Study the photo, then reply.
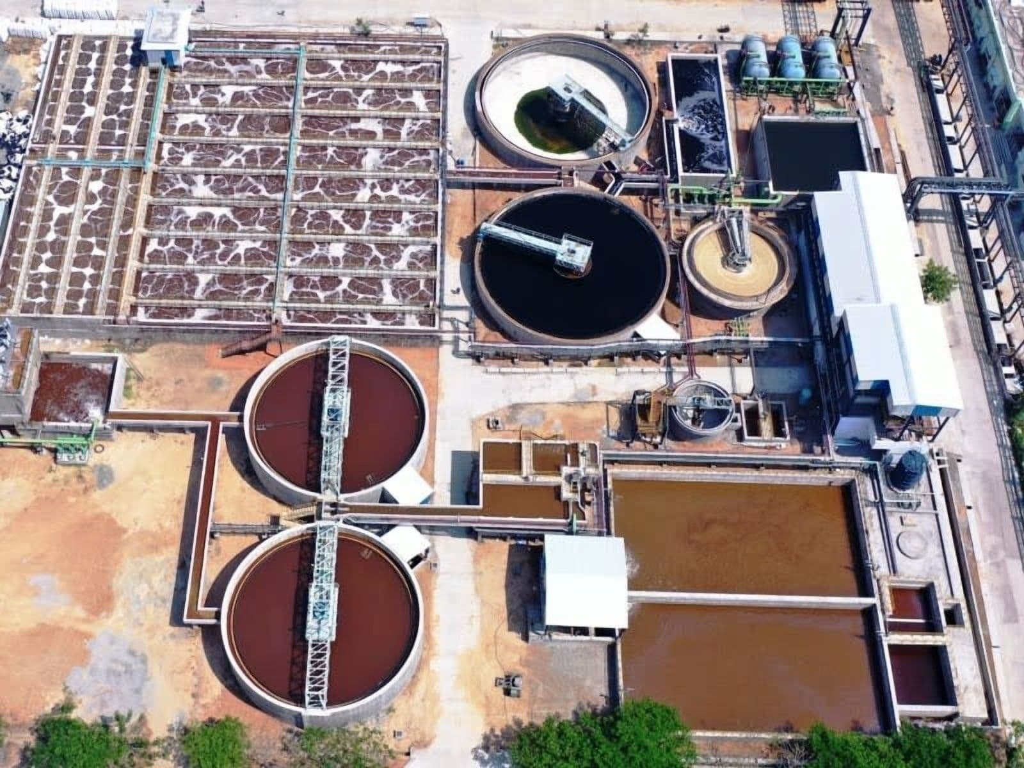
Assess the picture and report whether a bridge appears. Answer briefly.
Yes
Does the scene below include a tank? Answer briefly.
Yes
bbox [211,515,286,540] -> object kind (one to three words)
bridge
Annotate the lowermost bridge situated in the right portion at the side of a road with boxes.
[470,320,816,367]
